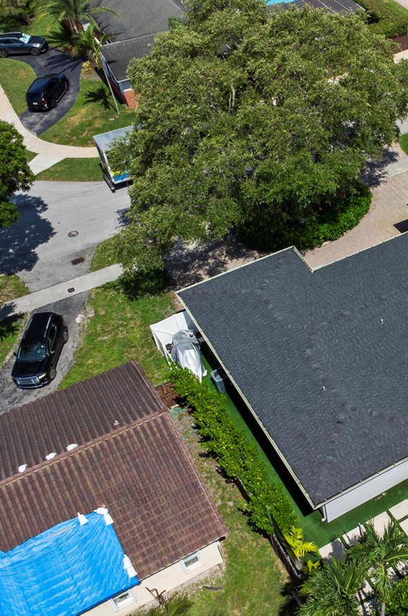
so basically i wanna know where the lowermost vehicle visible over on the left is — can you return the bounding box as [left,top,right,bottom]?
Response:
[3,313,68,396]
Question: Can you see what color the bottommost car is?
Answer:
black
